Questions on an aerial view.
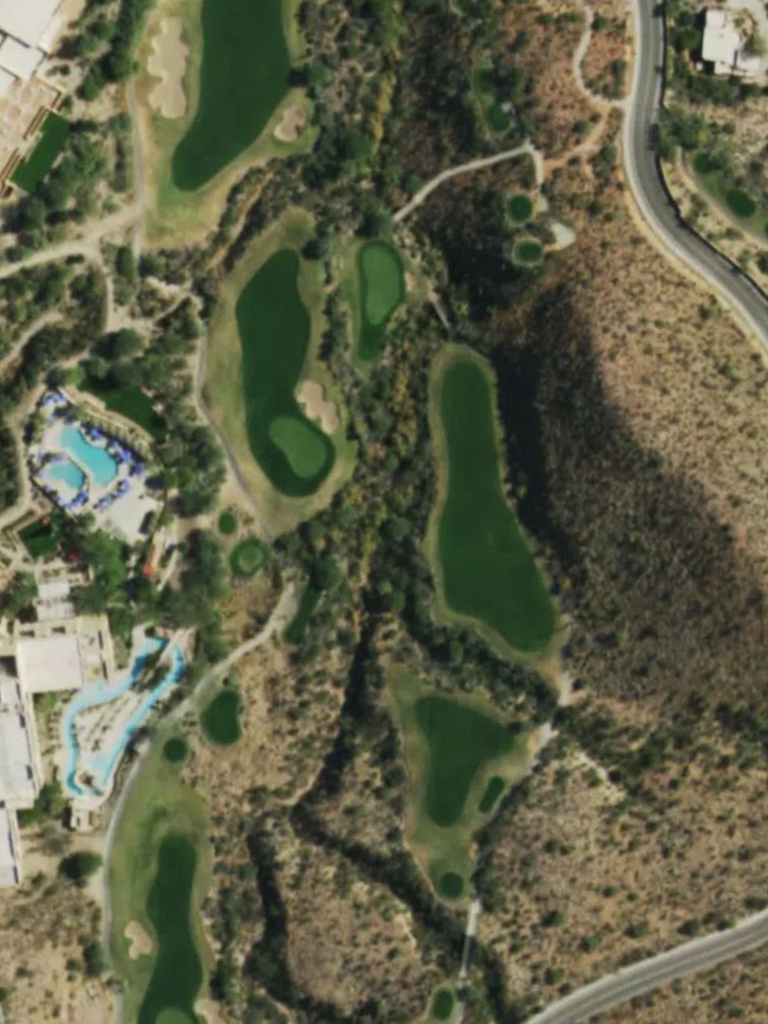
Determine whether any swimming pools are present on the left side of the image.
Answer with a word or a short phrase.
Yes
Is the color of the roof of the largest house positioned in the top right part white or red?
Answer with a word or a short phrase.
white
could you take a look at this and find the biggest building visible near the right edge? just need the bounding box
[702,9,740,74]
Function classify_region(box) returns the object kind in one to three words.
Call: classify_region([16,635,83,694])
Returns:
building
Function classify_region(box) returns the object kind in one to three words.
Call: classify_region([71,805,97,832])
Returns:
house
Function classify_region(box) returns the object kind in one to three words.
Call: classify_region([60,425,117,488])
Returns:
swimming pool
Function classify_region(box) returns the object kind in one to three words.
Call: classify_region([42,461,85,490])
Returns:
swimming pool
